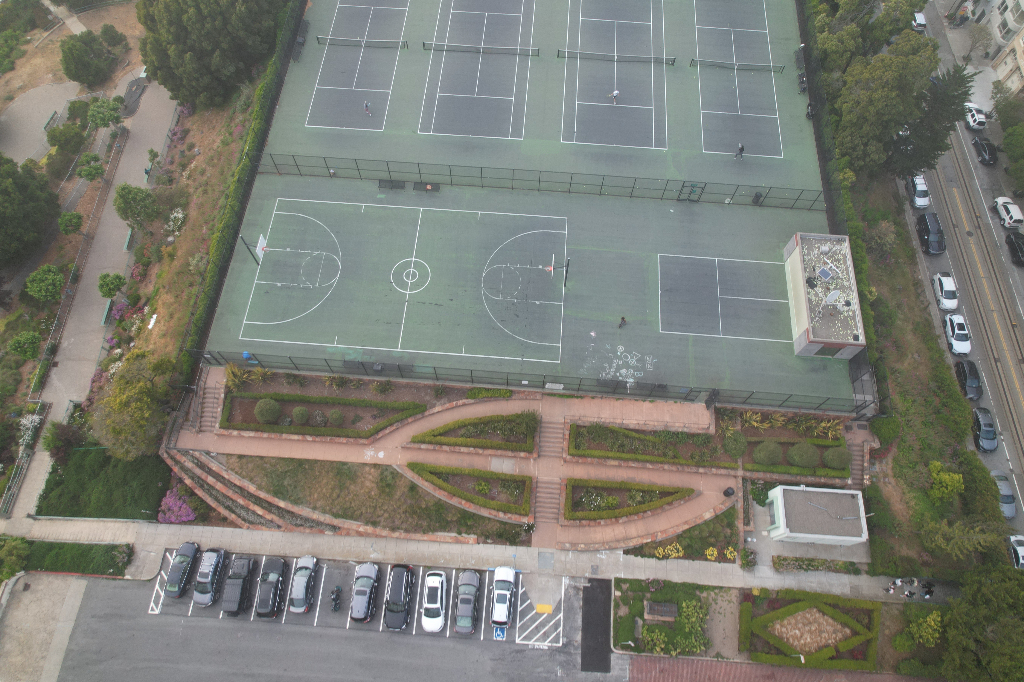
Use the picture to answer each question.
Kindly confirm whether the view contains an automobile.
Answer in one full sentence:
Yes, an automobile appears in the view.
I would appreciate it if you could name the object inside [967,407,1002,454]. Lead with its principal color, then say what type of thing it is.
gray car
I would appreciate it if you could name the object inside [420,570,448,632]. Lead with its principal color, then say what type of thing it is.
white car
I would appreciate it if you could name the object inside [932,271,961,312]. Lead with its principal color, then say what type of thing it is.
white car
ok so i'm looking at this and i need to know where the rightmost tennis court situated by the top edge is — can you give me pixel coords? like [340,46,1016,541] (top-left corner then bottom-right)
[694,0,783,157]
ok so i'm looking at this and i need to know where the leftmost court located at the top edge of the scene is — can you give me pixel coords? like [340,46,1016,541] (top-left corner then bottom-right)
[305,0,410,131]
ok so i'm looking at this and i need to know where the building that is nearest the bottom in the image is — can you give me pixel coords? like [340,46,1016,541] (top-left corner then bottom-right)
[760,486,873,545]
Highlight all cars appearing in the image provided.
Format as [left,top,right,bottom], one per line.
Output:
[993,195,1024,231]
[381,564,414,631]
[254,557,287,617]
[287,554,320,614]
[932,271,961,312]
[1004,536,1024,582]
[960,101,992,133]
[991,471,1021,519]
[453,570,481,634]
[162,540,202,599]
[942,313,974,358]
[969,135,997,168]
[1004,230,1024,270]
[917,211,949,256]
[216,555,256,617]
[348,562,379,622]
[489,565,518,628]
[967,407,1002,454]
[907,172,934,209]
[952,360,986,401]
[190,547,229,608]
[420,570,448,632]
